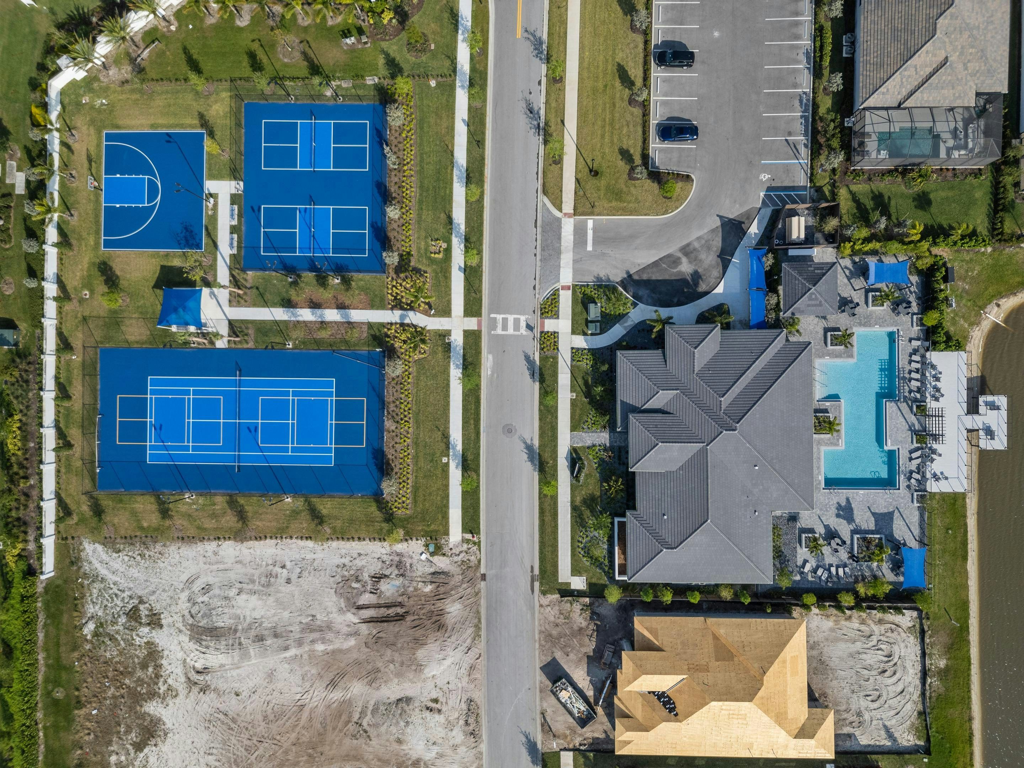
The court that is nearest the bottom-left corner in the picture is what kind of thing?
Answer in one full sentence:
What you see as the court that is nearest the bottom-left corner is a tennis court.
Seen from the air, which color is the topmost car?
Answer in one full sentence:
The topmost car looks black in the image.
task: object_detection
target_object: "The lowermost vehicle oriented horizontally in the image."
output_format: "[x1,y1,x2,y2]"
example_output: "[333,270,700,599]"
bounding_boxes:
[659,123,699,142]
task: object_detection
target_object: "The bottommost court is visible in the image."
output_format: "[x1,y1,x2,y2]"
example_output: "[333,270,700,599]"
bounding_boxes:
[97,347,386,497]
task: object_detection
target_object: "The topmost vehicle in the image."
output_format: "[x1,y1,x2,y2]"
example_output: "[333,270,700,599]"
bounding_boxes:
[658,48,696,68]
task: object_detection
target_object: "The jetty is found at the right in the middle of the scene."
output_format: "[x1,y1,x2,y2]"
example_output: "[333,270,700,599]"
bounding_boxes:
[966,395,1013,450]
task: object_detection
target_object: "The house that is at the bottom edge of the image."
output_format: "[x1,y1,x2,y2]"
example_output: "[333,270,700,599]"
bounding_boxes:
[614,616,834,758]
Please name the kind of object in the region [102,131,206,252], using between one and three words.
basketball court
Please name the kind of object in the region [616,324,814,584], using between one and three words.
house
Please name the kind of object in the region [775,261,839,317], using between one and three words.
building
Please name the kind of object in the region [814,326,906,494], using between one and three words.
swimming pool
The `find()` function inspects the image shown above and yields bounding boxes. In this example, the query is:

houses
[614,616,834,758]
[853,0,1014,113]
[616,324,814,584]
